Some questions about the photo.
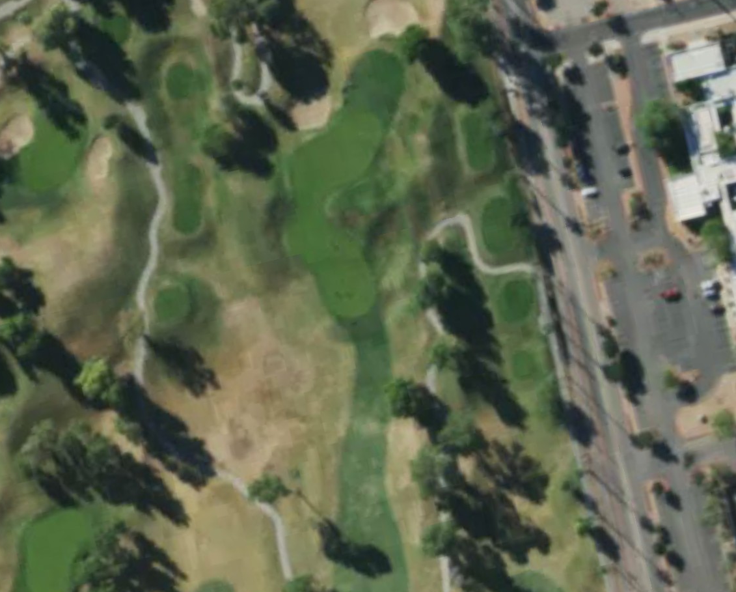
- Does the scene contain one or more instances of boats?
No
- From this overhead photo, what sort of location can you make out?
golf course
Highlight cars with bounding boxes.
[580,187,596,196]
[663,290,678,298]
[700,288,717,297]
[615,145,631,154]
[710,304,725,312]
[617,168,633,177]
[698,280,715,289]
